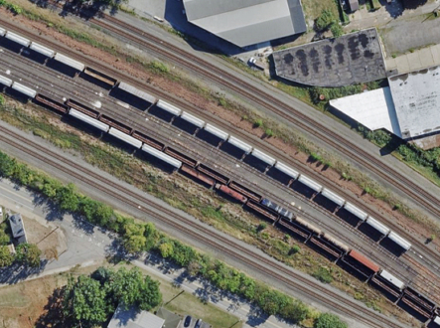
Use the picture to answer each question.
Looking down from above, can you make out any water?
No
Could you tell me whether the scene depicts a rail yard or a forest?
rail yard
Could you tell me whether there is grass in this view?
Yes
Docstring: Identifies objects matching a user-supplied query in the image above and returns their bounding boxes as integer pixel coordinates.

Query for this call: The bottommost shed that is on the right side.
[408,134,440,151]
